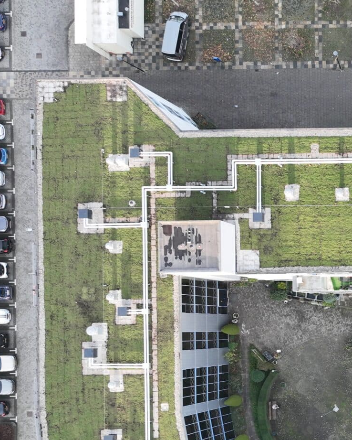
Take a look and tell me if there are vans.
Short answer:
Yes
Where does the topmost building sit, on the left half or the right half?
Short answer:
left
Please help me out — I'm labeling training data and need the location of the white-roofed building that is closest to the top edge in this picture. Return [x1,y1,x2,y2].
[75,0,145,58]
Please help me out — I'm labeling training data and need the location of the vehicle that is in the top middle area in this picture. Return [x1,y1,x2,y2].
[161,11,192,63]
